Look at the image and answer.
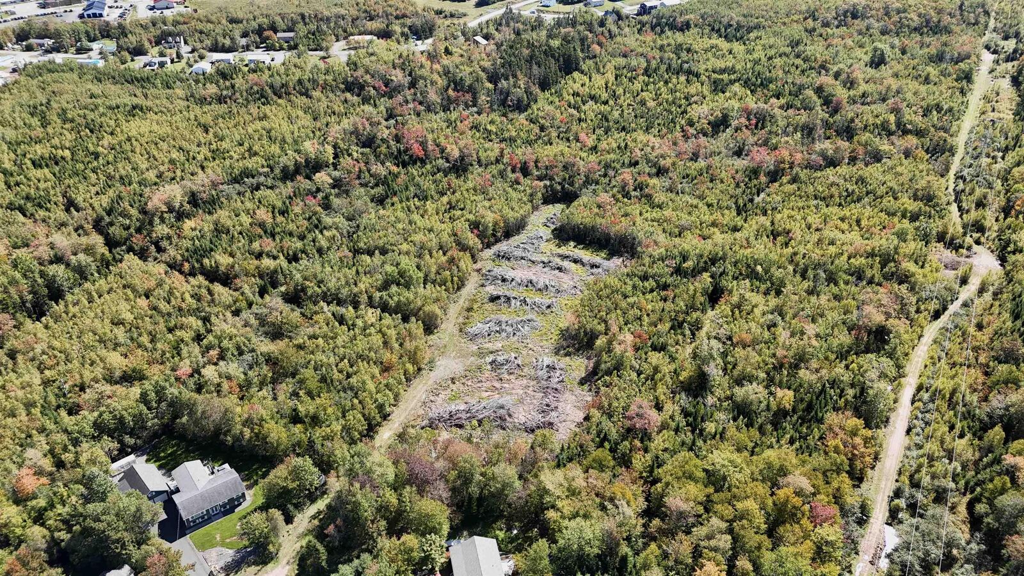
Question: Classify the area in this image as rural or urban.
rural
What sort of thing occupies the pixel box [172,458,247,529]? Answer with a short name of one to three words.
house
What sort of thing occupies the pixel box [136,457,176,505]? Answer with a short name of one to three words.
building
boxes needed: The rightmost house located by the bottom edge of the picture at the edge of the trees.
[447,535,521,576]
